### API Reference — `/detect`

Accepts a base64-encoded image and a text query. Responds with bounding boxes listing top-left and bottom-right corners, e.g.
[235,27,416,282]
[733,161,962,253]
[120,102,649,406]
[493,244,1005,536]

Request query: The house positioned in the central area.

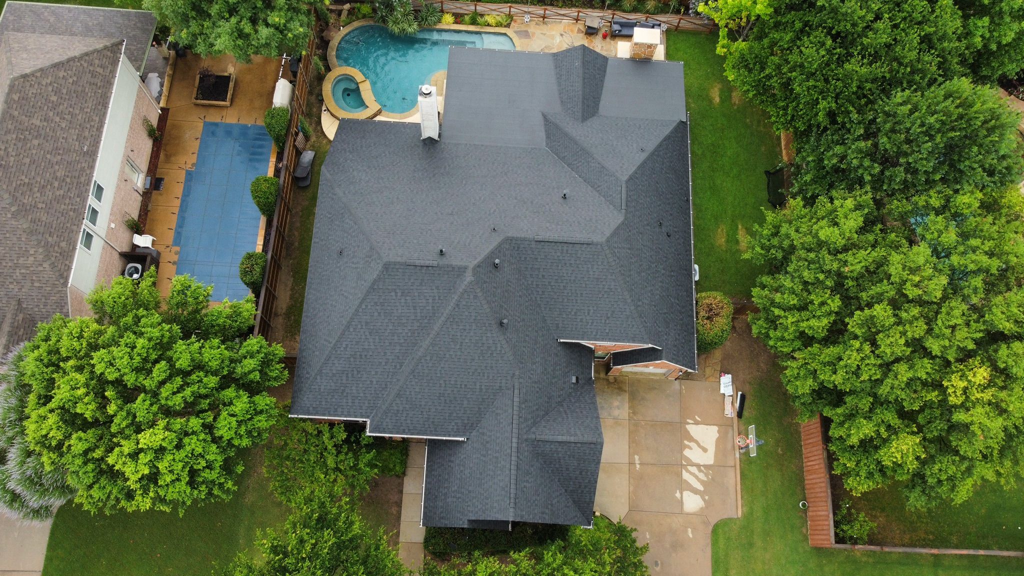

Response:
[288,44,699,532]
